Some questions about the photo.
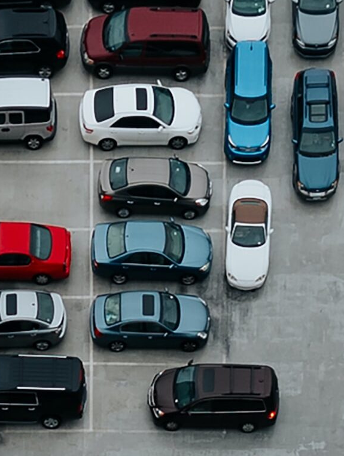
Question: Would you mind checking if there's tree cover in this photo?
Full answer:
No, there is no tree cover in the image.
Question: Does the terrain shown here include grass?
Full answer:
No, there is no grass in the image.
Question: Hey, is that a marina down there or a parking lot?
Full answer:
This image shows a parking lot.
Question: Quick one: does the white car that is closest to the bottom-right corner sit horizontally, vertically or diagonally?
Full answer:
I'd say the white car that is closest to the bottom-right corner is aligned vertically in the picture.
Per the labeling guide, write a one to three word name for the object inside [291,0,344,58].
car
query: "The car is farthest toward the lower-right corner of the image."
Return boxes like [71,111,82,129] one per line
[148,360,280,432]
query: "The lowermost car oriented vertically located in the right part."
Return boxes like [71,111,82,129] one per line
[223,182,275,289]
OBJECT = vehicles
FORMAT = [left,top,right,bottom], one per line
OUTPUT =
[80,78,202,150]
[223,43,277,165]
[92,216,213,285]
[91,285,211,352]
[0,74,57,149]
[0,353,87,429]
[0,289,66,351]
[148,360,280,432]
[223,182,275,289]
[0,222,72,283]
[99,152,213,218]
[0,4,69,77]
[81,0,211,80]
[291,71,344,199]
[291,0,344,58]
[222,0,276,47]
